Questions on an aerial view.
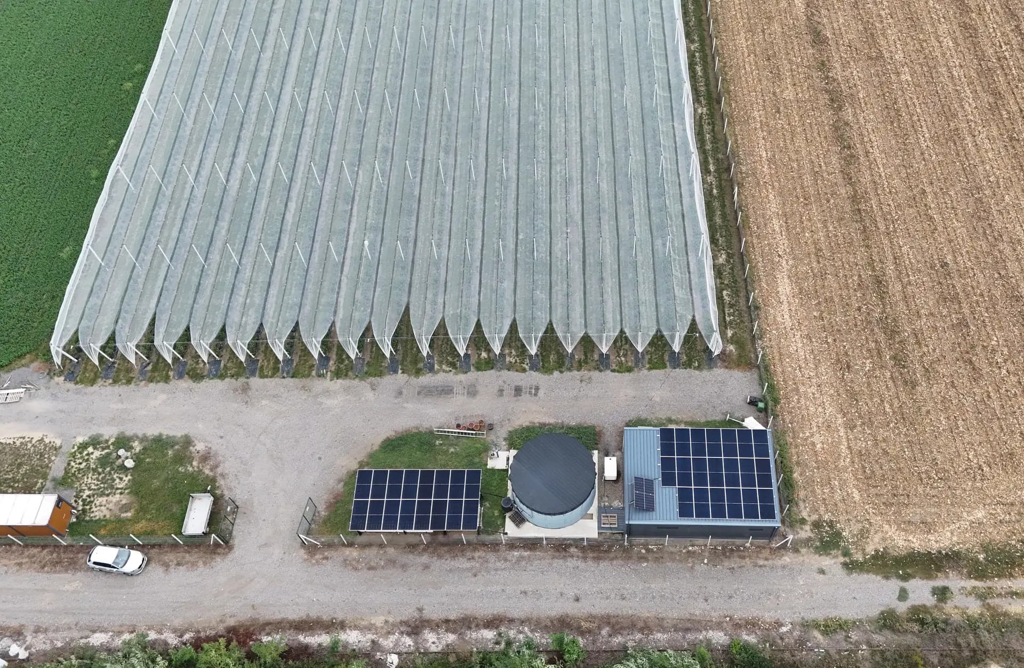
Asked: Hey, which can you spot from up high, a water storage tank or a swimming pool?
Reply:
water storage tank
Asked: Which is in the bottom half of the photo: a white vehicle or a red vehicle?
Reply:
white vehicle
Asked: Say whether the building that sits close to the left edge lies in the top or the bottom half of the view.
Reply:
bottom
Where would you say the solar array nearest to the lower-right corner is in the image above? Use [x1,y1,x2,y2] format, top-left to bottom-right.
[658,427,778,521]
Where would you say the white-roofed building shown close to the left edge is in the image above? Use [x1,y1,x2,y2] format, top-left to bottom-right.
[0,494,76,536]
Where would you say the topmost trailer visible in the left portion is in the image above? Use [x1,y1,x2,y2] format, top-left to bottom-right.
[181,485,214,536]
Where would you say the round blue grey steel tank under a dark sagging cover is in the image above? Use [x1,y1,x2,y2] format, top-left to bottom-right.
[509,433,597,528]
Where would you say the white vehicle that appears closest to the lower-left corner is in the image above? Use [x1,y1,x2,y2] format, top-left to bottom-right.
[85,542,150,575]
